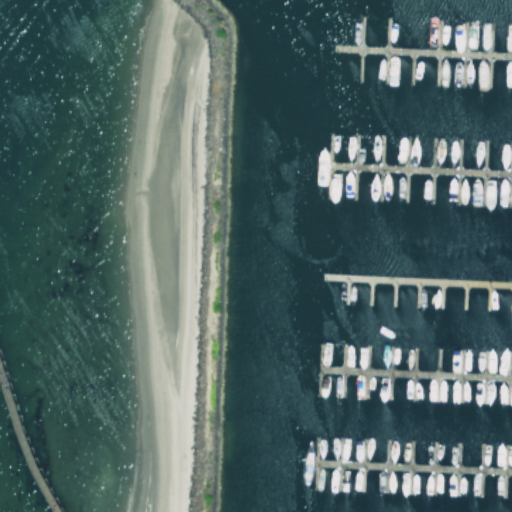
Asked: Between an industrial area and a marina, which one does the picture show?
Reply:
marina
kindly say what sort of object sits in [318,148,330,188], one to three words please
boat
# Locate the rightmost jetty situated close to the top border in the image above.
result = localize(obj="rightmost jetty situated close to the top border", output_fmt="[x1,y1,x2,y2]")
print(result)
[335,16,512,89]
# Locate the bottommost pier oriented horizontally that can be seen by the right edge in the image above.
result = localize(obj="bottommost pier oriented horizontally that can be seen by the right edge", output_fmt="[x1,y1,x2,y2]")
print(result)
[315,437,512,500]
